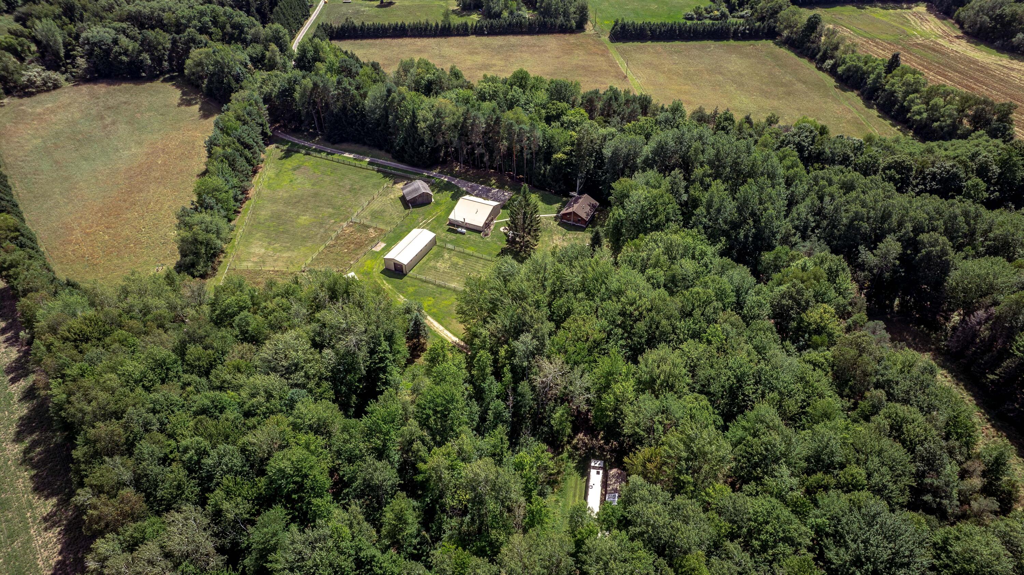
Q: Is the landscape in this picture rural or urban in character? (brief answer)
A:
rural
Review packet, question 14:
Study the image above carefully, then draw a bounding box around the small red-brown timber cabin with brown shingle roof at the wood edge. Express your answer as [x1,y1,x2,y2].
[560,194,599,227]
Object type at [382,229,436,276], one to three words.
shed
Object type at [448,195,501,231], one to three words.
building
